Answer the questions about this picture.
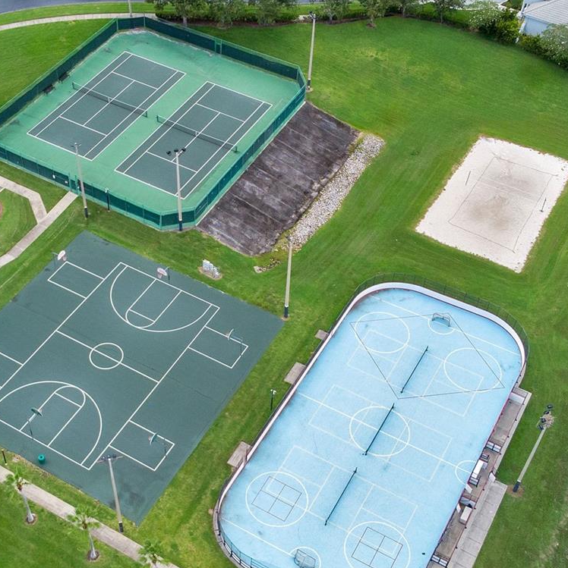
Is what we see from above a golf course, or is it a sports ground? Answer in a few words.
sports ground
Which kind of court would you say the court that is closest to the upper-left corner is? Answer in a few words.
tennis court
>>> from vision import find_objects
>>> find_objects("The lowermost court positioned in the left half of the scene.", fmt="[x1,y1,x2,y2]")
[0,230,283,525]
